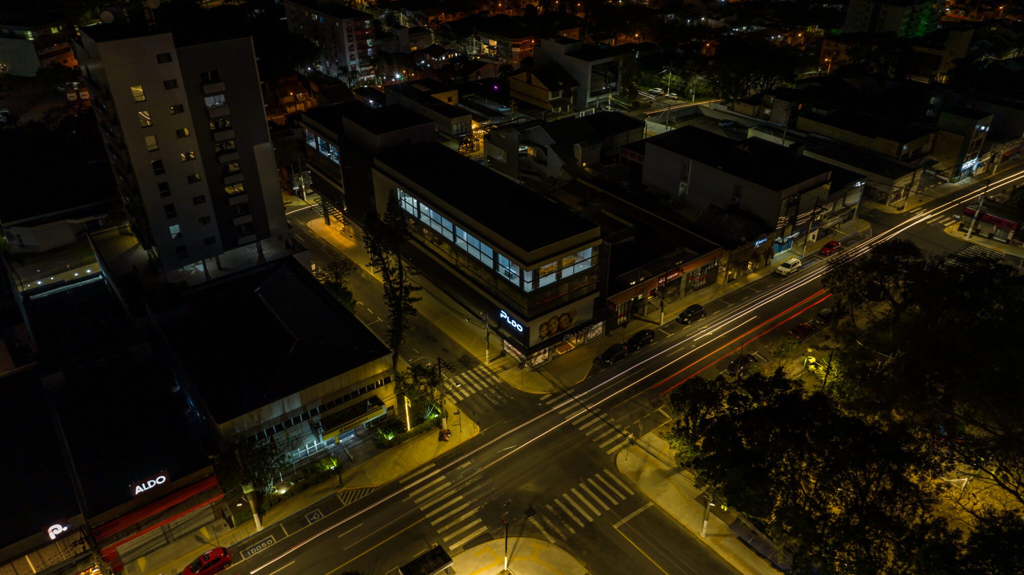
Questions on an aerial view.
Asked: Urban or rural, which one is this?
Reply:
urban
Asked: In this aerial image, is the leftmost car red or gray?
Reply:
red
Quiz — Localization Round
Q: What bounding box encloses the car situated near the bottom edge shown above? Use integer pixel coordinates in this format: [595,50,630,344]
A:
[178,542,231,575]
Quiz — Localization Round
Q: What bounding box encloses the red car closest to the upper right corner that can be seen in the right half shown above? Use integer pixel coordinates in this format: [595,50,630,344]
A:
[821,238,845,255]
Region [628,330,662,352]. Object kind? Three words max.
car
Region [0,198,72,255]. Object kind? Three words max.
house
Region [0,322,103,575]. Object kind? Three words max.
building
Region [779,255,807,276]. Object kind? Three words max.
car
